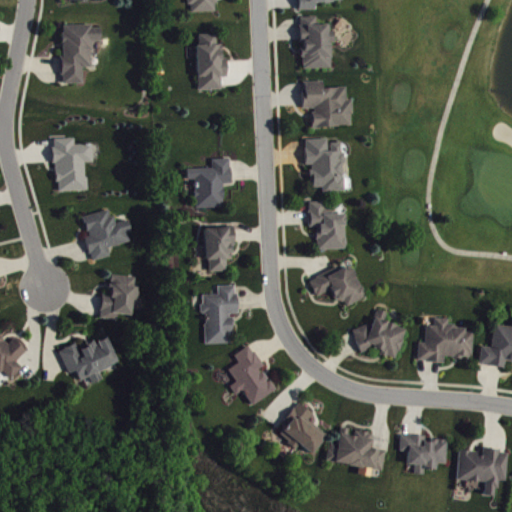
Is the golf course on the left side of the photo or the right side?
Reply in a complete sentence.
It is on the right.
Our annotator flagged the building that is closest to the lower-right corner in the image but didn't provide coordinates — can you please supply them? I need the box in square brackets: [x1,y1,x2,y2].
[459,448,509,497]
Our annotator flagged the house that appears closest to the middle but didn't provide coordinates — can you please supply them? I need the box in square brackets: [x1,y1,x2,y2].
[204,228,236,272]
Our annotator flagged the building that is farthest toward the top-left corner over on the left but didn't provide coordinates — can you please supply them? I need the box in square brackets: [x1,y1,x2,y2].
[61,24,102,82]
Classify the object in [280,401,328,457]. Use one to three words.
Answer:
house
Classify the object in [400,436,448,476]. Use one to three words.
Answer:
house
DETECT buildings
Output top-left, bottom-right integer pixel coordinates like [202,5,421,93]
[336,427,386,470]
[58,334,118,386]
[0,334,28,382]
[418,318,474,363]
[100,275,140,318]
[188,0,218,12]
[52,138,94,192]
[306,138,346,191]
[400,436,448,476]
[204,228,236,272]
[303,80,354,128]
[299,0,340,9]
[188,158,232,208]
[61,24,102,82]
[300,15,336,68]
[197,33,228,90]
[350,310,410,358]
[229,346,276,408]
[309,202,347,250]
[280,401,328,457]
[459,448,509,497]
[82,210,132,258]
[309,264,366,308]
[202,285,238,344]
